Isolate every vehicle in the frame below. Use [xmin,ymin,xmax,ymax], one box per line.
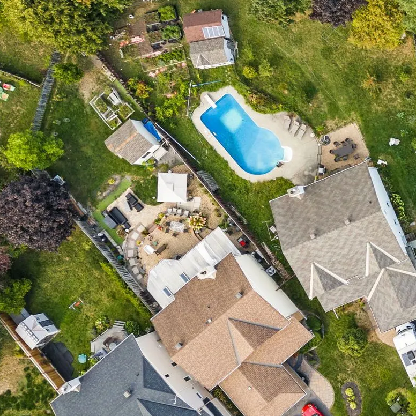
[300,402,323,416]
[395,321,416,391]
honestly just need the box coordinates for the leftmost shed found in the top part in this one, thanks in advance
[105,119,164,164]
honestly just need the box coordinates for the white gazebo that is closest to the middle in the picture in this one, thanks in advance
[157,174,195,203]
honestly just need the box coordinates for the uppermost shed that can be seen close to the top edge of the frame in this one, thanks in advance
[181,9,232,43]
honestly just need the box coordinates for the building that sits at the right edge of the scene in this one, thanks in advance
[268,161,416,333]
